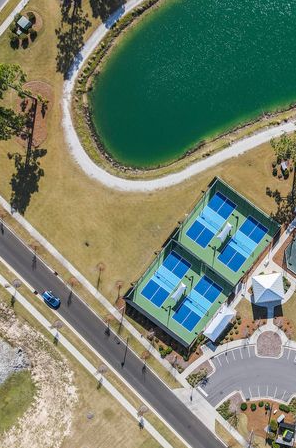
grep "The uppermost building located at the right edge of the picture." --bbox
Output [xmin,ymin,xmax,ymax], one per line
[252,272,284,302]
